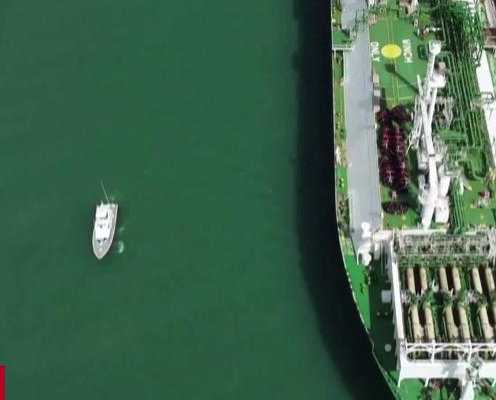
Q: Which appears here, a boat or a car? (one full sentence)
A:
This aerial view contains a boat.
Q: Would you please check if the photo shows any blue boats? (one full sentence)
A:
No, I can see no blue boat in this picture.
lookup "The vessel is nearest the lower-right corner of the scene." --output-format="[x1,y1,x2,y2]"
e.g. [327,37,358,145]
[331,0,496,400]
